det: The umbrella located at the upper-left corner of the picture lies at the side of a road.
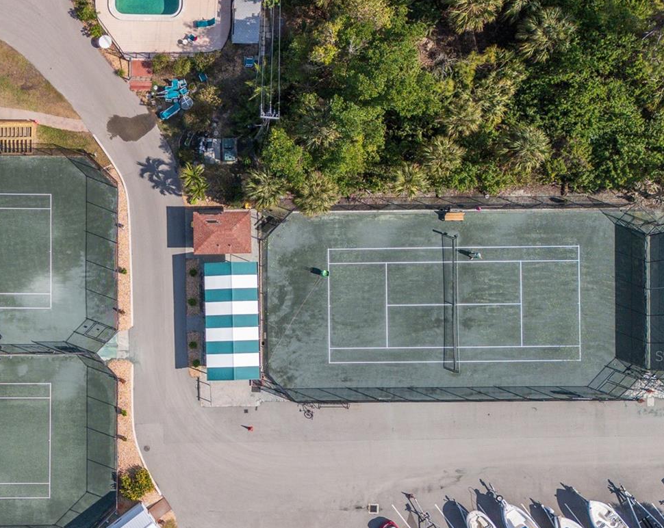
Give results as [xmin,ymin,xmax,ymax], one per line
[98,35,111,50]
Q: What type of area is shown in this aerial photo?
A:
sports ground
